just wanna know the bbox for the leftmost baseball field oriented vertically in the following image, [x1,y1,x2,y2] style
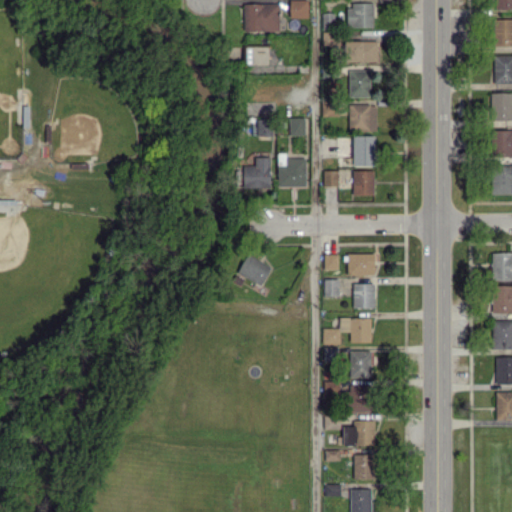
[0,86,20,160]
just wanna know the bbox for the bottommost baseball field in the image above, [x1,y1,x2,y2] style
[0,211,118,366]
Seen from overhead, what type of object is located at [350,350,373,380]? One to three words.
house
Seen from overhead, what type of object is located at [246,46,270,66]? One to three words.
building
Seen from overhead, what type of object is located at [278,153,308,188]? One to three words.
house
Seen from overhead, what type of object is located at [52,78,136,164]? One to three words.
baseball field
